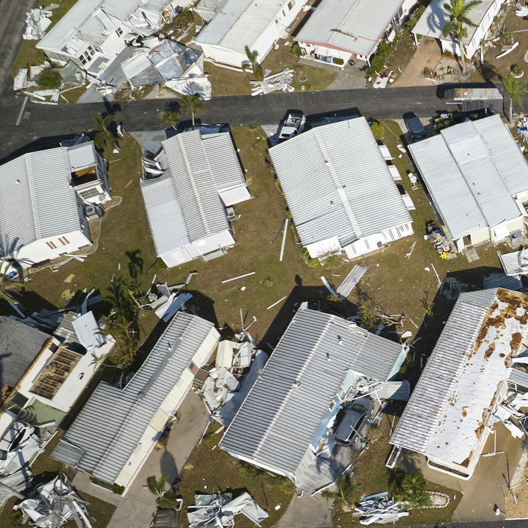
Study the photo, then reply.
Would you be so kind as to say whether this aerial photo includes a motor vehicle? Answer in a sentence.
Yes, the image includes a motor vehicle.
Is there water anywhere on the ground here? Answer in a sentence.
No, there is no water in the image.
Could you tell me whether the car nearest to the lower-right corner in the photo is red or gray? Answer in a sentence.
The car nearest to the lower-right corner is gray.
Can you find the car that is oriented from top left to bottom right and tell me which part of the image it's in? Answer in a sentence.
You can find the car that is oriented from top left to bottom right in the top right area of the picture.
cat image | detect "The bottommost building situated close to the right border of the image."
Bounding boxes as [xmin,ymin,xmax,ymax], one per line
[389,287,528,474]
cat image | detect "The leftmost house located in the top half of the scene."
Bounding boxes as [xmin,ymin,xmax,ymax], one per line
[0,139,113,269]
